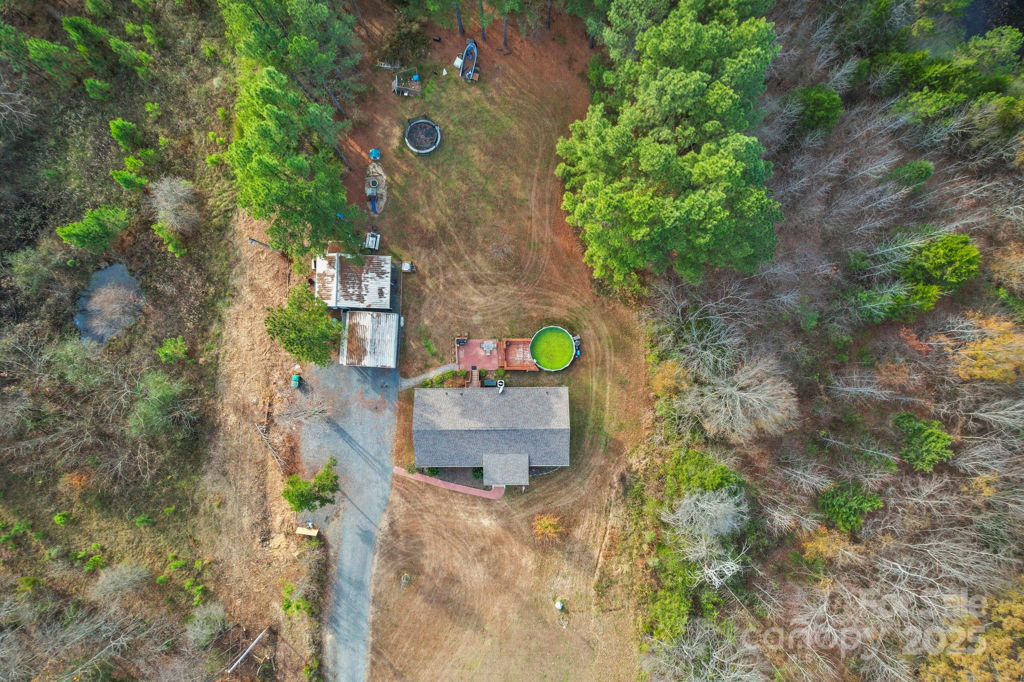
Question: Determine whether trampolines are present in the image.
Yes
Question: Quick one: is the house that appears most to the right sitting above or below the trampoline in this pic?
below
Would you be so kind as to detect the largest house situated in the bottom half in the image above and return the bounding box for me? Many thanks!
[411,386,571,489]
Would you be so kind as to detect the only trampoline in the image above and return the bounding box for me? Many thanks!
[402,110,442,153]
